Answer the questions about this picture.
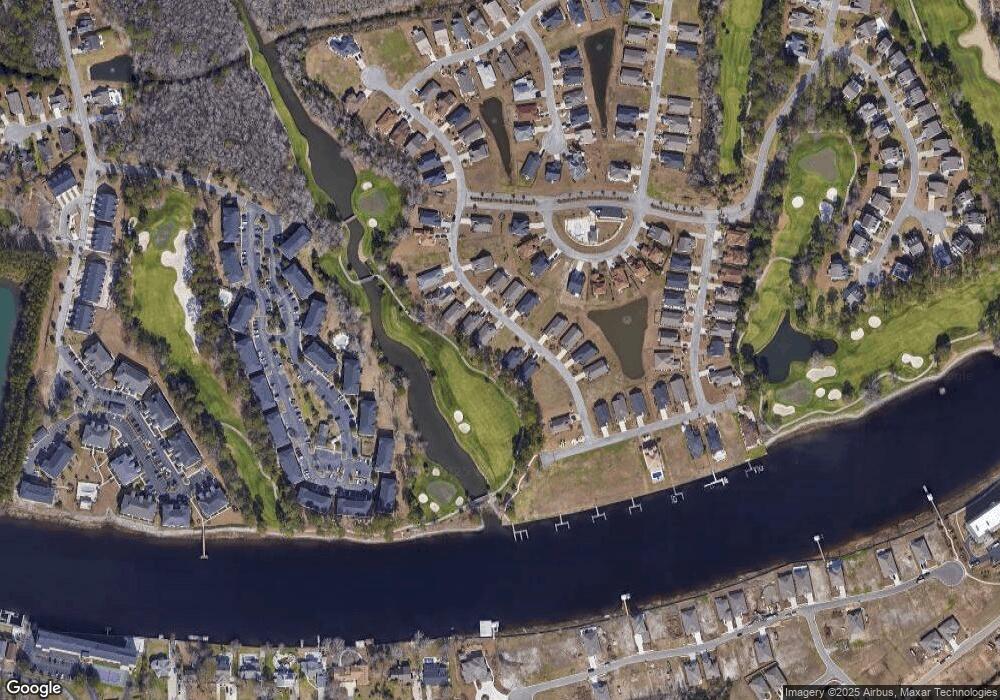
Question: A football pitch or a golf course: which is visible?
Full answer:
Looking from above, you can make out a golf course.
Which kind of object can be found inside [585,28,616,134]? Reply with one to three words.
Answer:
pond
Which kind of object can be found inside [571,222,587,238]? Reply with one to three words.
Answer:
swimming pool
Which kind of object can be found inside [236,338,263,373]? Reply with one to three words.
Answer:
building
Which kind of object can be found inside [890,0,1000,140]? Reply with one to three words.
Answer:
golf course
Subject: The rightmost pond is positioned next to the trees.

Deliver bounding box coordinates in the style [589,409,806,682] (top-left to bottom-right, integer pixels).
[756,310,838,383]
